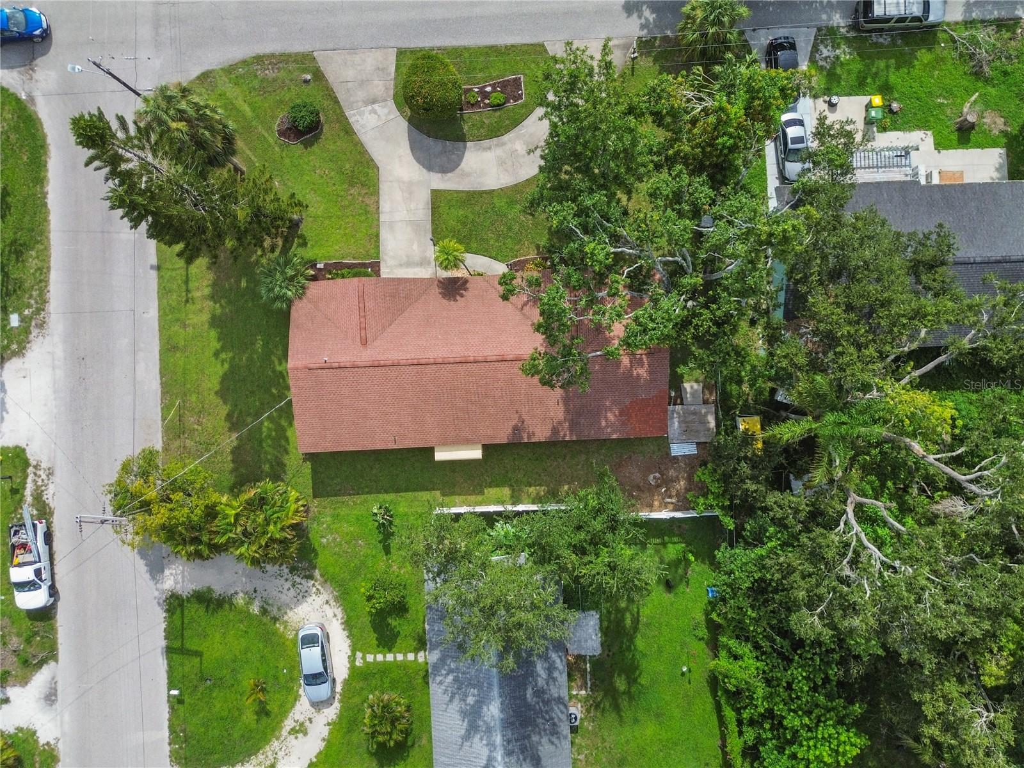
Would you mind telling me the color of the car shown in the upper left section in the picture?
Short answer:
blue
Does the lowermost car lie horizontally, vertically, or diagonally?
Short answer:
vertically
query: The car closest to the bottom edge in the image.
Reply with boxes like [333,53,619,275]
[294,623,337,708]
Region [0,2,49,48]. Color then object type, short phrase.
blue car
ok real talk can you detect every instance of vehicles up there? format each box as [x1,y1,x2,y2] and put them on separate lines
[761,31,802,86]
[853,0,941,32]
[0,2,49,48]
[775,109,811,183]
[294,623,337,708]
[8,516,60,608]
